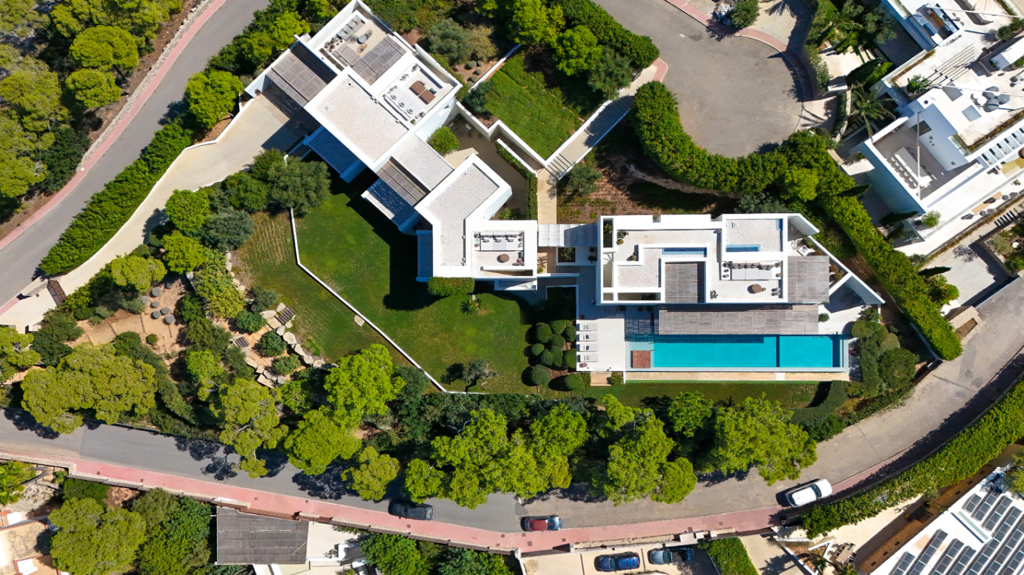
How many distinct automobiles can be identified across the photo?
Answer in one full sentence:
Looking from above, you can make out 5 automobiles.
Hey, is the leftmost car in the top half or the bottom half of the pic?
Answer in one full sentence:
The leftmost car is in the bottom half of the image.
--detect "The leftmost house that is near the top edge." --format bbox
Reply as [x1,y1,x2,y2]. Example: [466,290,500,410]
[245,0,467,229]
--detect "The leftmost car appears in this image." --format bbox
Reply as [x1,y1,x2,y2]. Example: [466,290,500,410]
[389,496,435,523]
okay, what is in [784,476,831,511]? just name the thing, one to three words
car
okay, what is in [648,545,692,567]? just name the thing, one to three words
car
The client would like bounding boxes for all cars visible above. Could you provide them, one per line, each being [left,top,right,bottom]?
[522,512,561,534]
[648,545,692,567]
[595,550,638,573]
[784,476,831,511]
[389,496,435,523]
